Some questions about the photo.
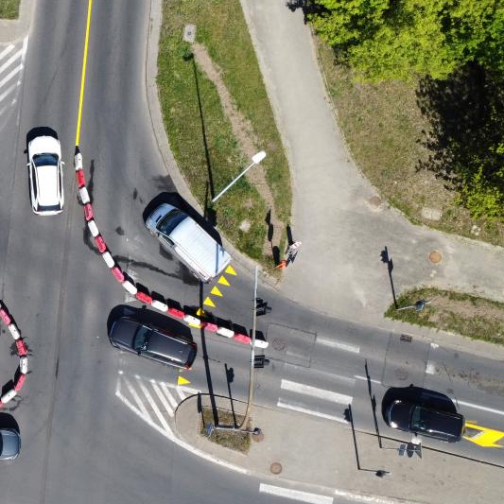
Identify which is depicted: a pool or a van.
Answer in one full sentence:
Of the two, only a van appears.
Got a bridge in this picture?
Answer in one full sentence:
No, the picture doesn't show any bridge.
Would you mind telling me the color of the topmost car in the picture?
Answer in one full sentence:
The topmost car looks white in the image.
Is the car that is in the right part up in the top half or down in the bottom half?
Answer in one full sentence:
You can find the car that is in the right part in the bottom half.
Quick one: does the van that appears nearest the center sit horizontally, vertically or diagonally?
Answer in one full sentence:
The van that appears nearest the center has been laid out diagonally relative to the frame.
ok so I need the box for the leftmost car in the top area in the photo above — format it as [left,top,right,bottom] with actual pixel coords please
[23,137,66,216]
